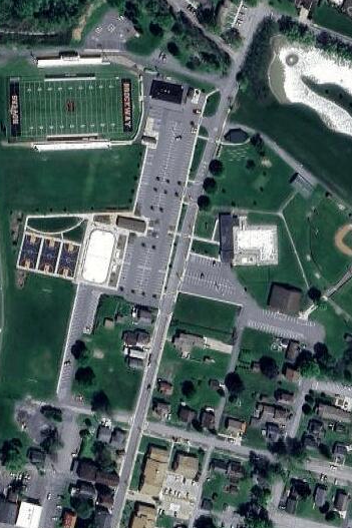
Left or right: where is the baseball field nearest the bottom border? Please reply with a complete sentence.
The baseball field nearest the bottom border appears in the right half of the scene.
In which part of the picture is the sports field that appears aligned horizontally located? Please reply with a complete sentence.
The sports field that appears aligned horizontally is located in the top left region of the scene.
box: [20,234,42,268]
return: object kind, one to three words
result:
basketball court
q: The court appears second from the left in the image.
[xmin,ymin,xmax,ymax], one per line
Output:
[38,238,61,272]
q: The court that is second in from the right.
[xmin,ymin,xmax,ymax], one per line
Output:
[57,243,79,277]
